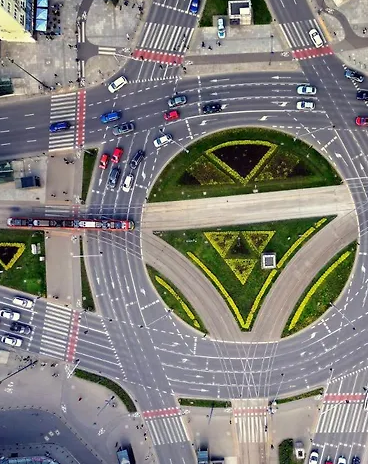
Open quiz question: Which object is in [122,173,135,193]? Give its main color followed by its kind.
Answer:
white vehicle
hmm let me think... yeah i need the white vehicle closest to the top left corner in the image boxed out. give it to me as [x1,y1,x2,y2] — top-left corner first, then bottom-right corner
[107,74,128,94]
